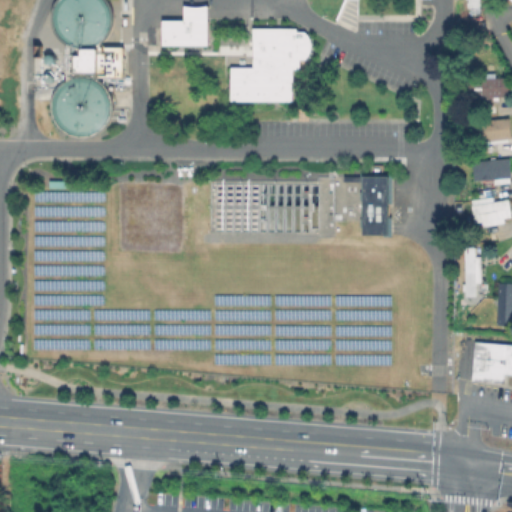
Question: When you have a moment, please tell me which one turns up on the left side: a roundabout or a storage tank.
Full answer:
Looking on the left side, you will find a storage tank.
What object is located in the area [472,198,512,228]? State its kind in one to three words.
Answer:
house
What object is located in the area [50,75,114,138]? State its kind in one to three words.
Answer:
storage tank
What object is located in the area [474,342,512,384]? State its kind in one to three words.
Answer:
building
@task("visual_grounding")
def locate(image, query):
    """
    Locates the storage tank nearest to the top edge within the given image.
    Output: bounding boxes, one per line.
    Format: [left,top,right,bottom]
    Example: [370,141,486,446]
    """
[50,0,114,48]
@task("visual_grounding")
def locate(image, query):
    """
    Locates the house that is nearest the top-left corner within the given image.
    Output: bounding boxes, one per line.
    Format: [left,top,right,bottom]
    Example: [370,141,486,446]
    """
[72,48,96,75]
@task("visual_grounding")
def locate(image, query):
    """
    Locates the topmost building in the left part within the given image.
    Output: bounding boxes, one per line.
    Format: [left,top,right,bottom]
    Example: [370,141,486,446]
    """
[162,5,208,47]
